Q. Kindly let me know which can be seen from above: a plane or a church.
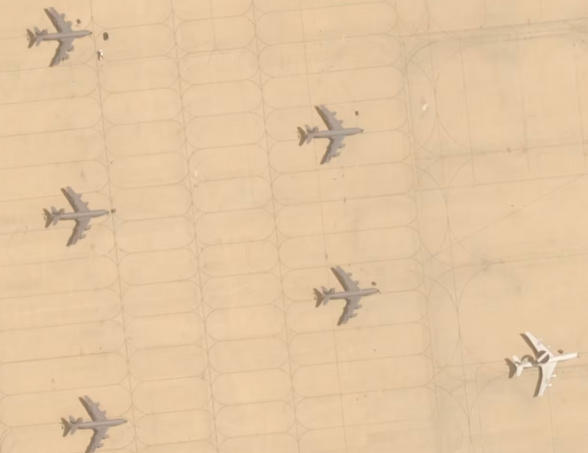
plane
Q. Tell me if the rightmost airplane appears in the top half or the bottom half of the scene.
bottom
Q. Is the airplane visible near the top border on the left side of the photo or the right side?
left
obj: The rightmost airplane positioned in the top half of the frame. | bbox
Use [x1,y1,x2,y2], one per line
[305,104,363,164]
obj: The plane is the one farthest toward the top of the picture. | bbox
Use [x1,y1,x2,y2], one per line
[34,7,92,66]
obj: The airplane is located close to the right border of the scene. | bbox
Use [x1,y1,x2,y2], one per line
[513,331,579,396]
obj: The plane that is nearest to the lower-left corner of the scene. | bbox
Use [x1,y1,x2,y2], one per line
[68,395,127,453]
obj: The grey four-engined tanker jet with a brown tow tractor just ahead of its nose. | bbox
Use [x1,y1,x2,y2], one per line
[50,187,109,245]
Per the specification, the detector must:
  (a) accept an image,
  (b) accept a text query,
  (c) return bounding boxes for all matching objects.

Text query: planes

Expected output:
[68,395,127,453]
[513,331,579,396]
[305,104,363,164]
[321,265,379,324]
[34,7,92,66]
[50,187,109,245]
